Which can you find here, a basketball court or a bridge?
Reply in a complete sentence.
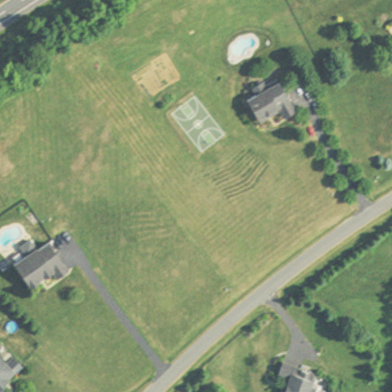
Of the two, only a basketball court appears.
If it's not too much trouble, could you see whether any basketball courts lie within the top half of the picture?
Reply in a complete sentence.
Yes, a basketball court is visible within the top half of the picture.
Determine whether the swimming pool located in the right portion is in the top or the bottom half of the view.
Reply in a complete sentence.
Seen from above, the swimming pool located in the right portion lies in the top half of the view.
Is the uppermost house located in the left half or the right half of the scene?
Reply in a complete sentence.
The uppermost house sits on the right side.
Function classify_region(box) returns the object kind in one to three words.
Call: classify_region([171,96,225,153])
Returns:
basketball court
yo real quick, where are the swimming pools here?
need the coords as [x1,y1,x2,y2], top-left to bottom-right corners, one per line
[0,224,32,258]
[6,322,18,333]
[228,34,260,64]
